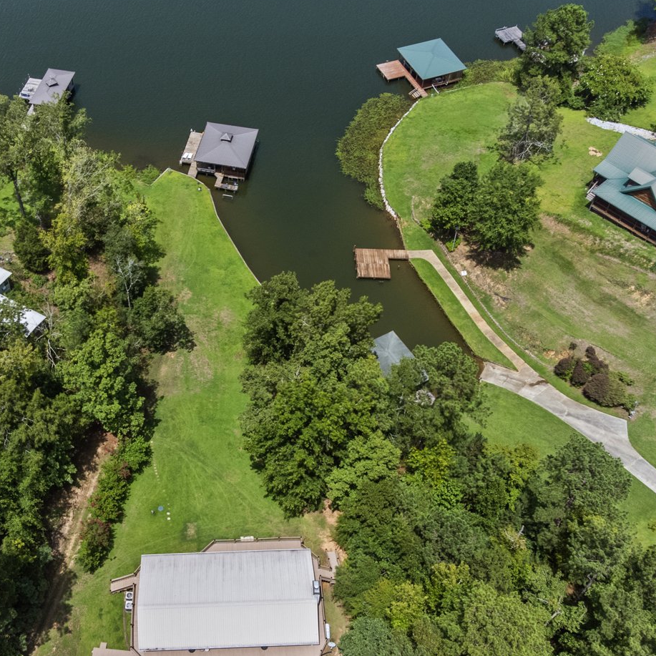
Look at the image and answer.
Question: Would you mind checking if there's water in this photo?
Yes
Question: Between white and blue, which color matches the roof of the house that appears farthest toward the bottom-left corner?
white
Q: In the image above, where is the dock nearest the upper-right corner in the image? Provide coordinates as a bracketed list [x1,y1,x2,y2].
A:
[494,20,523,58]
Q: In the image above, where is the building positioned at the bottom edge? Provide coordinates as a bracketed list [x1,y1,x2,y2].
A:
[91,532,340,656]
